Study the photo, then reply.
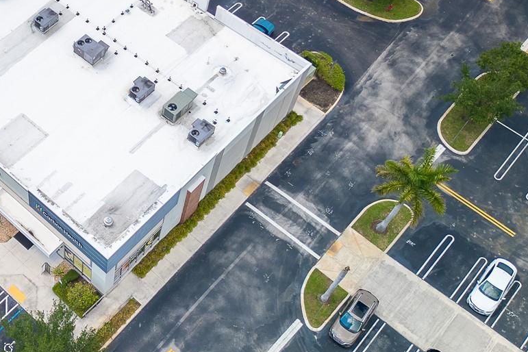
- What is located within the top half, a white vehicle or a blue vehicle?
blue vehicle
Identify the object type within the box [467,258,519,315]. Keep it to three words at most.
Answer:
car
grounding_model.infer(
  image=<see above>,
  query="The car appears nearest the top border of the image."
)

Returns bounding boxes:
[254,17,283,40]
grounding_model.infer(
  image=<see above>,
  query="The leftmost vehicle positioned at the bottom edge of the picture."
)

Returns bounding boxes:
[326,291,381,350]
